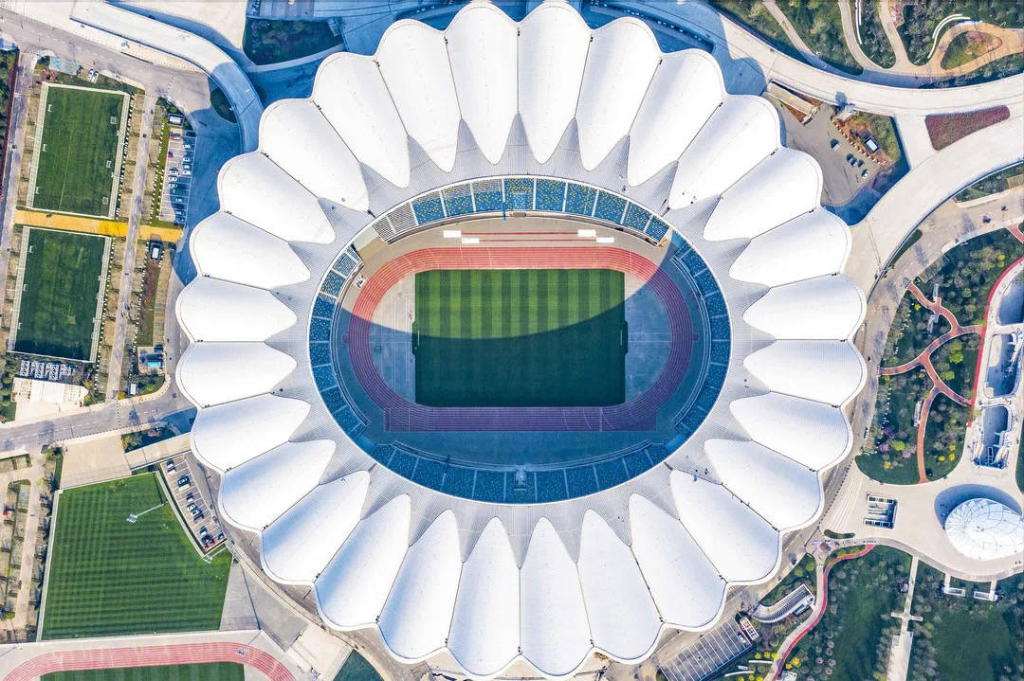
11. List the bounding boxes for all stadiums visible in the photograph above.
[175,1,865,680]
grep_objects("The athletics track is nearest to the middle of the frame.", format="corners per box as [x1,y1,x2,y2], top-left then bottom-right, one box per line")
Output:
[341,248,701,433]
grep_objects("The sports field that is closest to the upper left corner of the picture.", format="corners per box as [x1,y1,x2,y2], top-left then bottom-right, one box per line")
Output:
[23,80,130,219]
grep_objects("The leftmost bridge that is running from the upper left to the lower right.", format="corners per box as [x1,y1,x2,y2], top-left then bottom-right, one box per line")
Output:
[68,0,265,149]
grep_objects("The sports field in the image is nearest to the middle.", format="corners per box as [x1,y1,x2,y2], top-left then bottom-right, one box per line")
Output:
[414,269,628,407]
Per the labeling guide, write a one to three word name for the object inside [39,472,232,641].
sports field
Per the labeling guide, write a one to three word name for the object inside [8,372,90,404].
building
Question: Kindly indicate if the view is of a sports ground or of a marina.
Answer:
sports ground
